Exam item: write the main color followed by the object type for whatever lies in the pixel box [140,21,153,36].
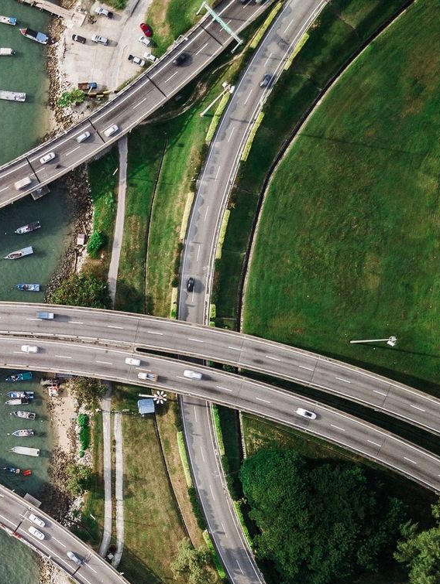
red vehicle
